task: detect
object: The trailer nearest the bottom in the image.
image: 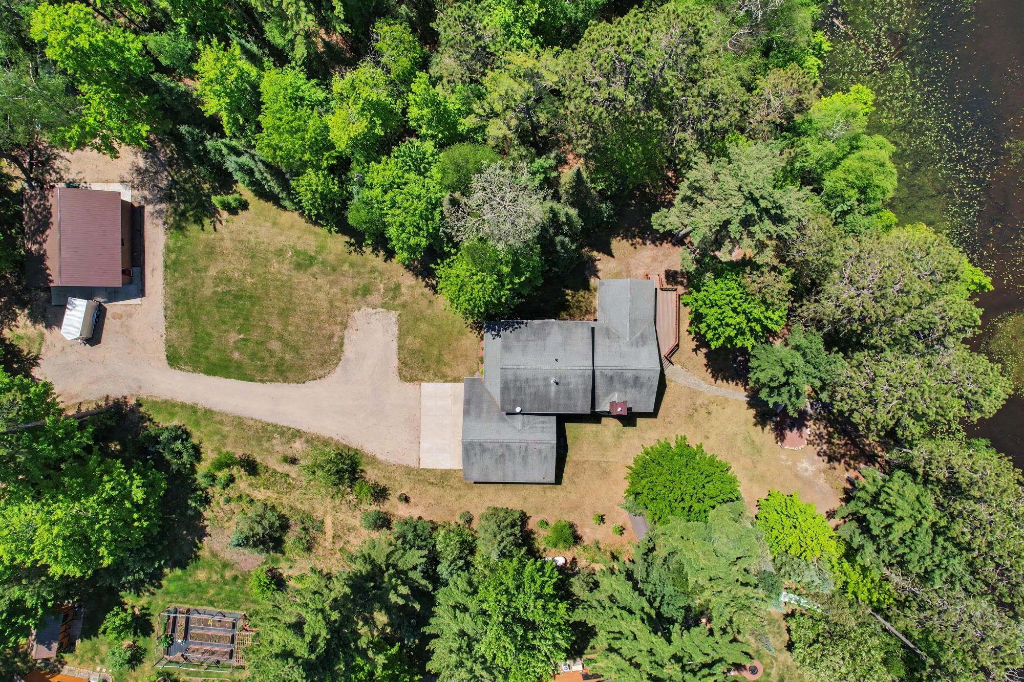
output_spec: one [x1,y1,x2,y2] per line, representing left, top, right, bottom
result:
[60,297,104,351]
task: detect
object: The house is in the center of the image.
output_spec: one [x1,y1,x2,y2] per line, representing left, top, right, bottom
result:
[461,279,660,483]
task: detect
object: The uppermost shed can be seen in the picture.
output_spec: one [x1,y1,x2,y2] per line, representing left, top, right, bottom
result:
[23,185,136,287]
